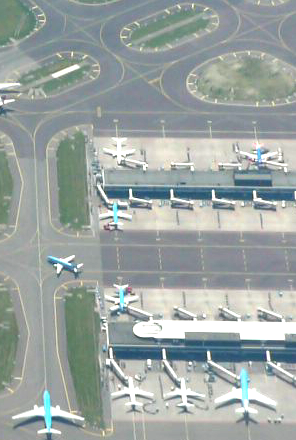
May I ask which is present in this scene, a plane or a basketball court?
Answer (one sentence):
Visible in the photo is a plane.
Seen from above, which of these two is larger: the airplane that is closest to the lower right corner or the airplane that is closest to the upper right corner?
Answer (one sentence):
The airplane that is closest to the lower right corner is larger than the airplane that is closest to the upper right corner.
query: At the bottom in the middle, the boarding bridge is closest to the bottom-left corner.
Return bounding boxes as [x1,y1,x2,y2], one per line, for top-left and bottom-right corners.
[109,349,129,382]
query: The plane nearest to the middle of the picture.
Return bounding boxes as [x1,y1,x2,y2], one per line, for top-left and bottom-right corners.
[99,203,131,226]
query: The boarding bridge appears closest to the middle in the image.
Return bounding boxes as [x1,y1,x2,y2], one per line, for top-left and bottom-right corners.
[128,190,153,208]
